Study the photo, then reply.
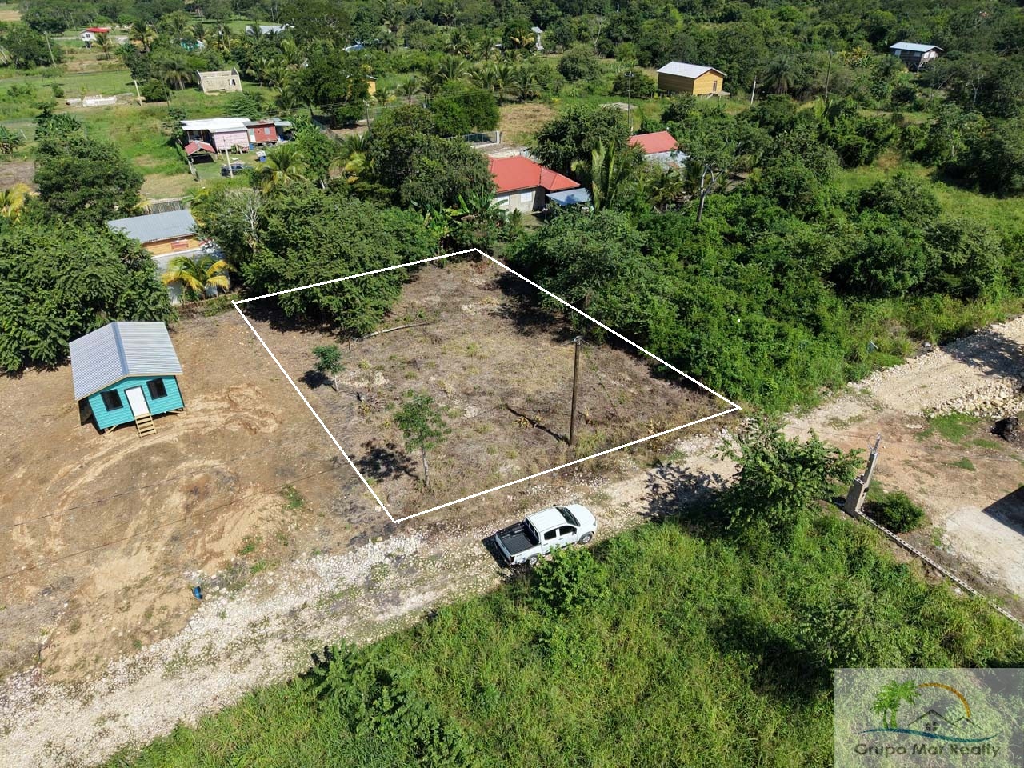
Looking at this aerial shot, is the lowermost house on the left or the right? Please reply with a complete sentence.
The lowermost house is on the left side of the image.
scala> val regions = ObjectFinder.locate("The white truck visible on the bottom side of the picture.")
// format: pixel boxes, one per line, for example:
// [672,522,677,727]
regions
[491,506,601,569]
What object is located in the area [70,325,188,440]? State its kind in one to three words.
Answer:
house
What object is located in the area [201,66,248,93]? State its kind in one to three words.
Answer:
house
